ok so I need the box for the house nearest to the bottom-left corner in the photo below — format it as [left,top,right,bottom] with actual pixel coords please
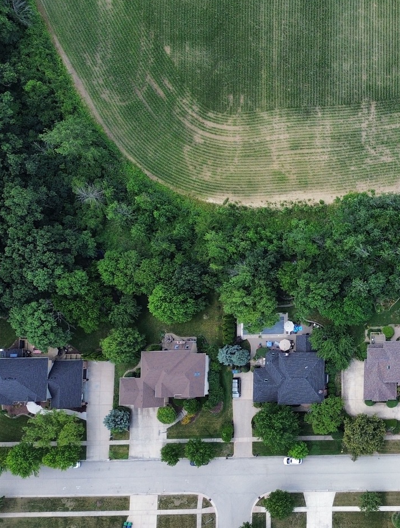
[0,347,93,408]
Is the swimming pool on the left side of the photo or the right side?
right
